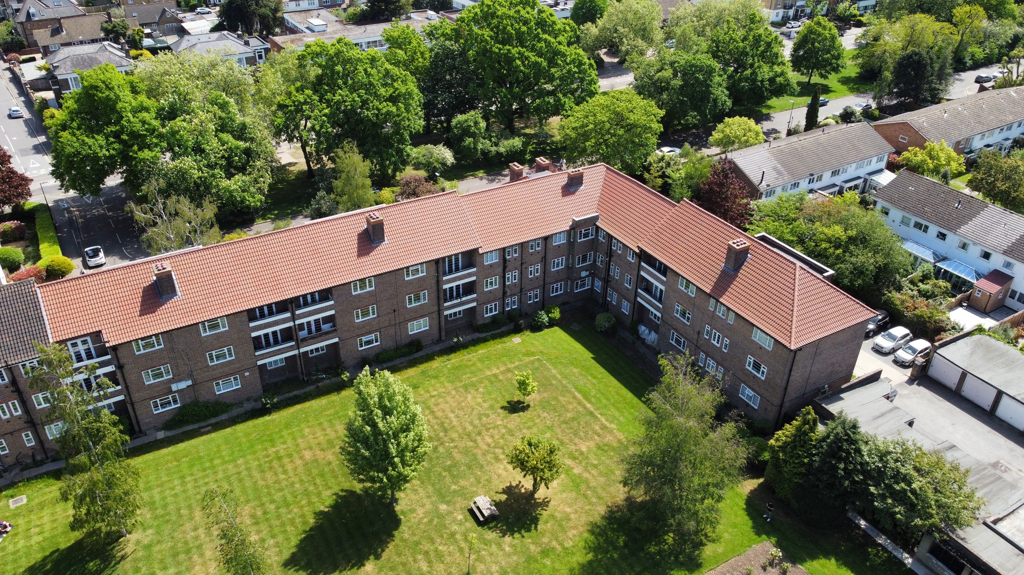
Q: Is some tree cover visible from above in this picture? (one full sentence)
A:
Yes, tree cover can be seen from above here.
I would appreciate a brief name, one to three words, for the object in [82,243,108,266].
car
